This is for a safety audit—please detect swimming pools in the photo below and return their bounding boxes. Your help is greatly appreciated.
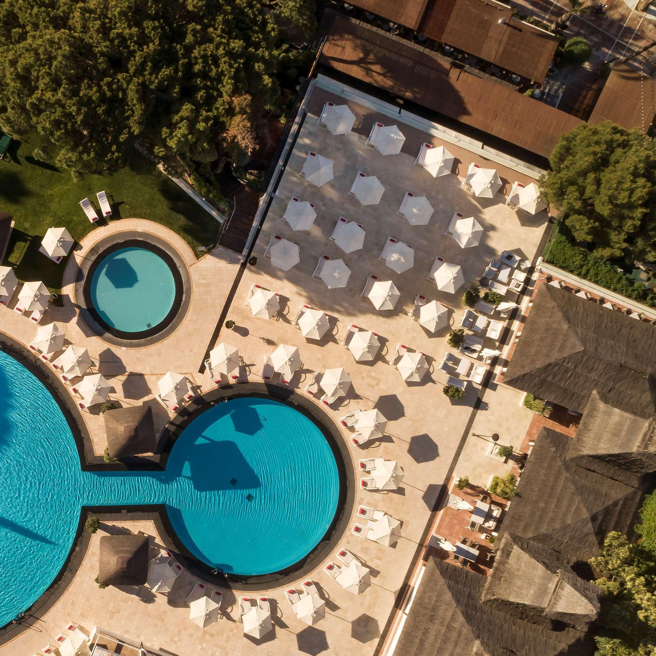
[0,350,341,630]
[90,247,176,332]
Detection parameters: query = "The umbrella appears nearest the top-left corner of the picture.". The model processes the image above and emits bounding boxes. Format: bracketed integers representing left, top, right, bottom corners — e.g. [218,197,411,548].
[43,225,74,258]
